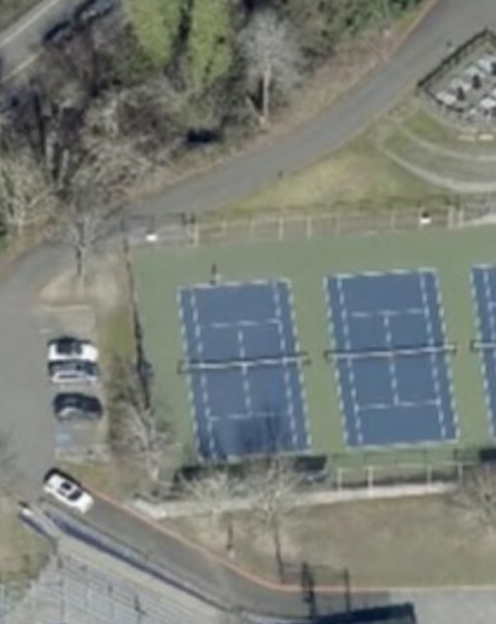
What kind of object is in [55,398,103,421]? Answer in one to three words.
car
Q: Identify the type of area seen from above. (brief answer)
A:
sports ground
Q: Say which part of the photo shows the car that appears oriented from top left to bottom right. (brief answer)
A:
bottom left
